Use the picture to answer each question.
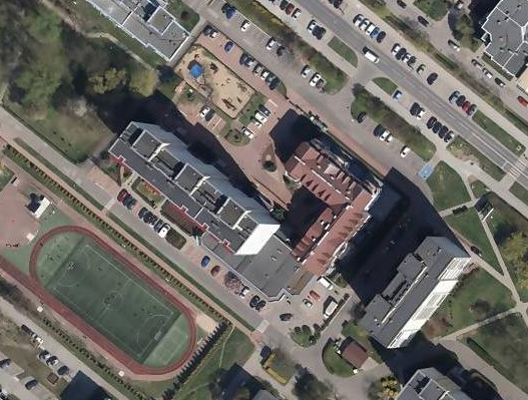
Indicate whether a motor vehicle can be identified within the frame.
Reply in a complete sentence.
Yes, you can see a motor vehicle in this photo.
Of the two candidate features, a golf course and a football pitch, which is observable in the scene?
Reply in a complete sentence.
It is a football pitch that can be seen here.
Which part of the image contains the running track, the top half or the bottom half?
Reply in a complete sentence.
The running track sits in the bottom half of the picture.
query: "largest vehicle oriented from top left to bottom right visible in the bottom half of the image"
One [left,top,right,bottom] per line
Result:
[316,275,334,292]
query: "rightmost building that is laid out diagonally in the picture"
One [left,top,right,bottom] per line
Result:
[359,231,468,346]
